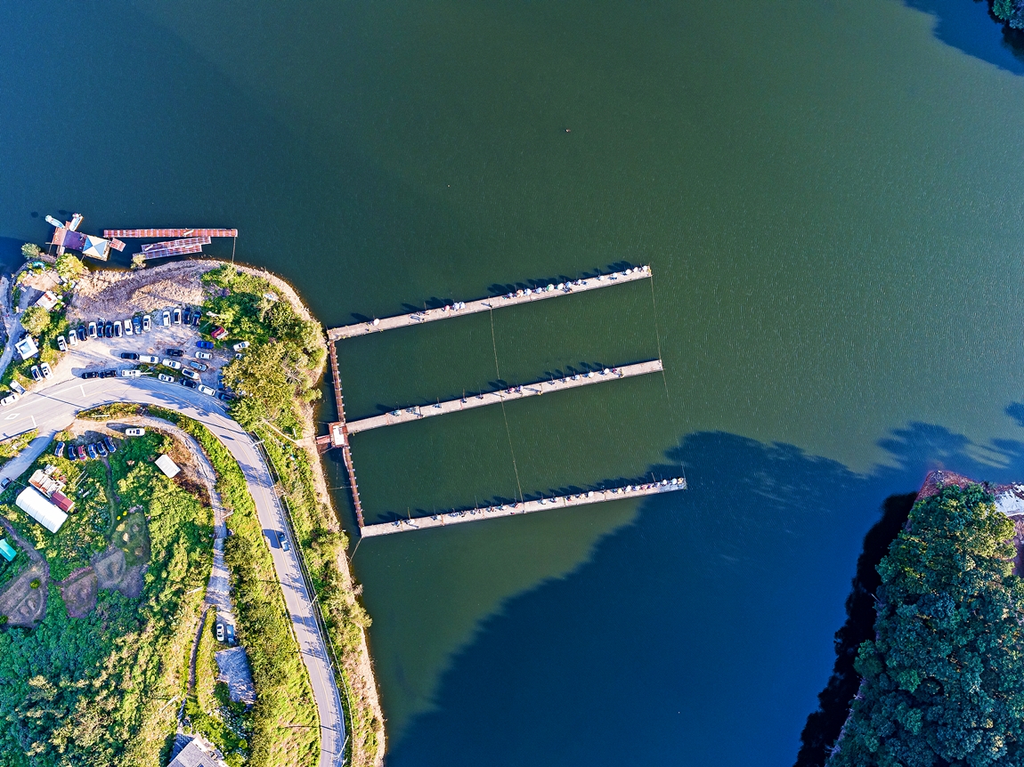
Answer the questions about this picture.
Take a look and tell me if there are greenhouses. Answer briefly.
Yes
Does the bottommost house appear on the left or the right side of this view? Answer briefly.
left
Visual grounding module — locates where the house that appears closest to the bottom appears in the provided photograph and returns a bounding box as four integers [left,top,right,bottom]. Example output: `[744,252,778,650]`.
[167,736,231,767]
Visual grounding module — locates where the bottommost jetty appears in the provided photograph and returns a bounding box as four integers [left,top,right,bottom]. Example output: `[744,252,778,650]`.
[362,478,686,537]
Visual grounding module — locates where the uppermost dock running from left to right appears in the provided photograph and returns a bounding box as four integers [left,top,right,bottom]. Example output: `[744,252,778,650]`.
[328,267,652,341]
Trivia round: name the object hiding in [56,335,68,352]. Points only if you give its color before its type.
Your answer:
white vehicle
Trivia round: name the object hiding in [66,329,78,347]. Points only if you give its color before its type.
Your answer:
white vehicle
